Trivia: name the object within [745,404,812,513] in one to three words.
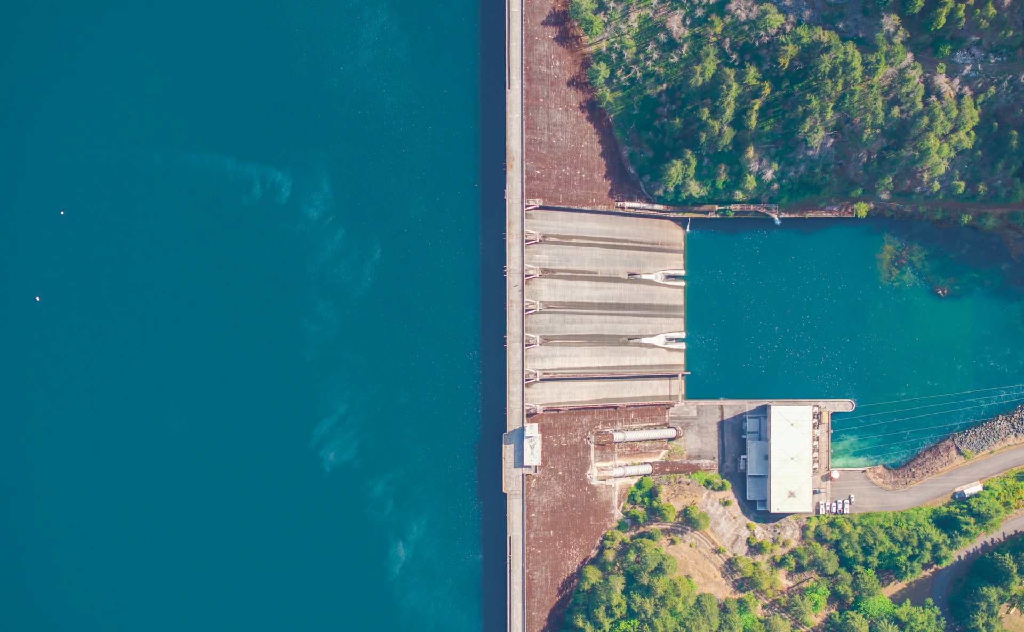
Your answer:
building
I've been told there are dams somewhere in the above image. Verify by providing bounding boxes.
[502,0,693,632]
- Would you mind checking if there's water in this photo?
Yes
